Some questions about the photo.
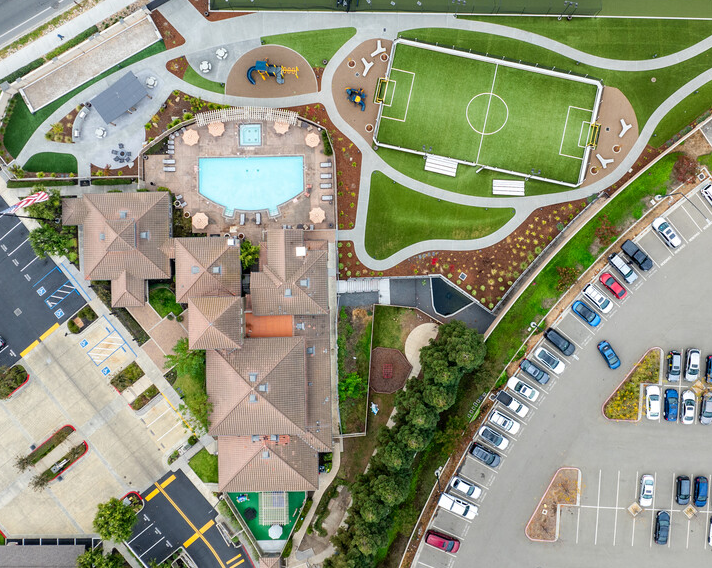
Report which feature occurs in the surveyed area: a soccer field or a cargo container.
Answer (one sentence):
Visible in the photo is a soccer field.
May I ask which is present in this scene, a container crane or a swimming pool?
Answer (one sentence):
This aerial view contains a swimming pool.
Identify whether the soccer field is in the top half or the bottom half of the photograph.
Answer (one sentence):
You can find the soccer field in the top half.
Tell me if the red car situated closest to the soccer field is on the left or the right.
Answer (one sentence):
The red car situated closest to the soccer field sits on the right side.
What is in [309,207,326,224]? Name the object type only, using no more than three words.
umbrella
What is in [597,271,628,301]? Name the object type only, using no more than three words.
car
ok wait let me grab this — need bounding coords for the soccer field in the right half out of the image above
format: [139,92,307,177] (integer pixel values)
[377,44,596,181]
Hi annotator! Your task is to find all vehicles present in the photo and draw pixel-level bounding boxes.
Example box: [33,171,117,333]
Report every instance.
[572,300,600,327]
[507,375,539,401]
[426,529,459,552]
[478,425,508,449]
[699,184,712,209]
[661,388,680,421]
[439,492,477,518]
[691,476,708,505]
[664,350,682,382]
[683,348,701,380]
[697,392,712,424]
[619,237,653,273]
[644,386,661,418]
[469,441,502,467]
[596,338,620,371]
[582,284,613,313]
[703,354,712,383]
[652,217,682,248]
[653,509,670,543]
[519,358,550,385]
[494,388,531,419]
[608,253,638,283]
[487,408,520,434]
[535,347,564,372]
[679,391,698,424]
[674,475,690,504]
[449,475,482,499]
[597,271,628,301]
[544,328,576,356]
